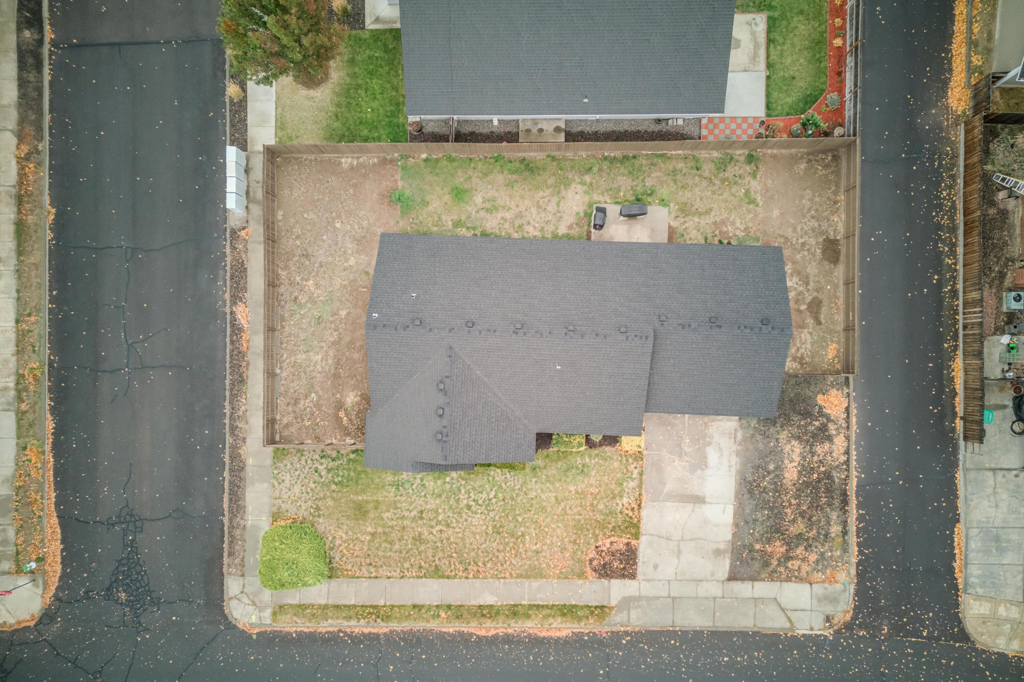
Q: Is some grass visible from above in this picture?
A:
Yes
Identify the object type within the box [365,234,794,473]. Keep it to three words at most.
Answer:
house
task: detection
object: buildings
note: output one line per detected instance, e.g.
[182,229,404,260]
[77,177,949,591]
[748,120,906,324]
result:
[991,0,1024,87]
[365,234,794,473]
[389,0,737,127]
